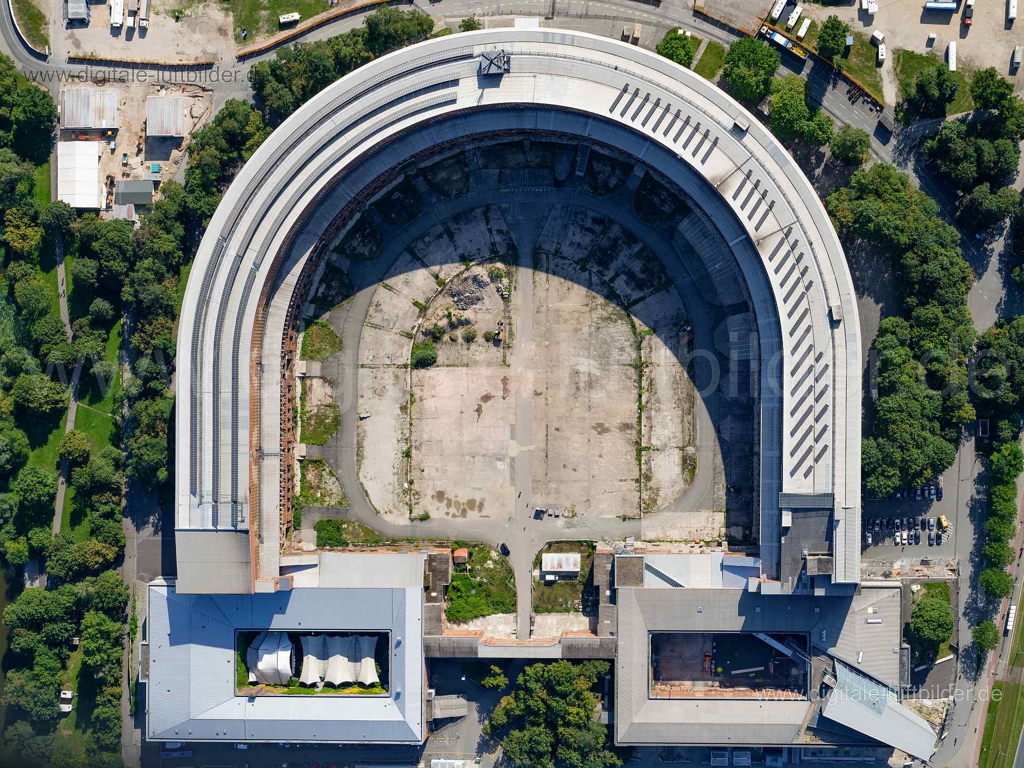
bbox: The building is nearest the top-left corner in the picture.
[61,88,122,130]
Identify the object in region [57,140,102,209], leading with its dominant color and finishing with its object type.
white tent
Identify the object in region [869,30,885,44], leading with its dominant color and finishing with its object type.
white camper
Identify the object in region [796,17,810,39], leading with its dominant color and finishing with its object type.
white camper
